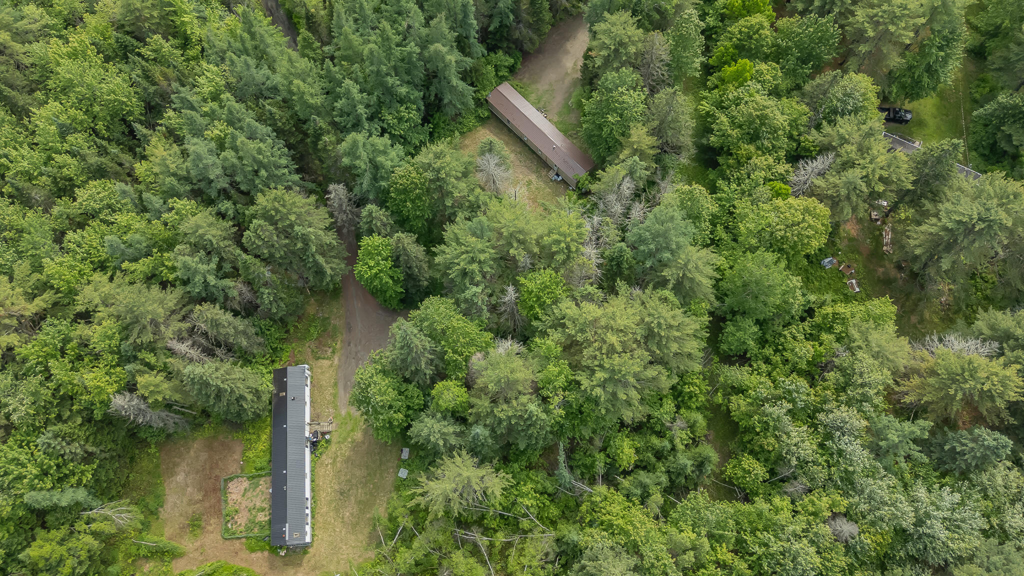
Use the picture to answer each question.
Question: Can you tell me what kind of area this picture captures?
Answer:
forest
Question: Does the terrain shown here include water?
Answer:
No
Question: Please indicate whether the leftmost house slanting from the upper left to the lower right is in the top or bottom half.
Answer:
top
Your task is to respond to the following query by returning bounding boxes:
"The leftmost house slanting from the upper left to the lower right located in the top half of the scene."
[486,82,597,189]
